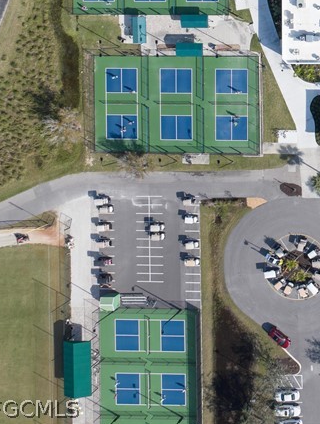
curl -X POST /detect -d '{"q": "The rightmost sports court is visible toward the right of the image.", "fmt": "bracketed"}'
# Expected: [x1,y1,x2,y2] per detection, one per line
[204,56,259,154]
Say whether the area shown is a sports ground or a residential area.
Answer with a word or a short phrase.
sports ground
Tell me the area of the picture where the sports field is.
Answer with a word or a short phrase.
bottom left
